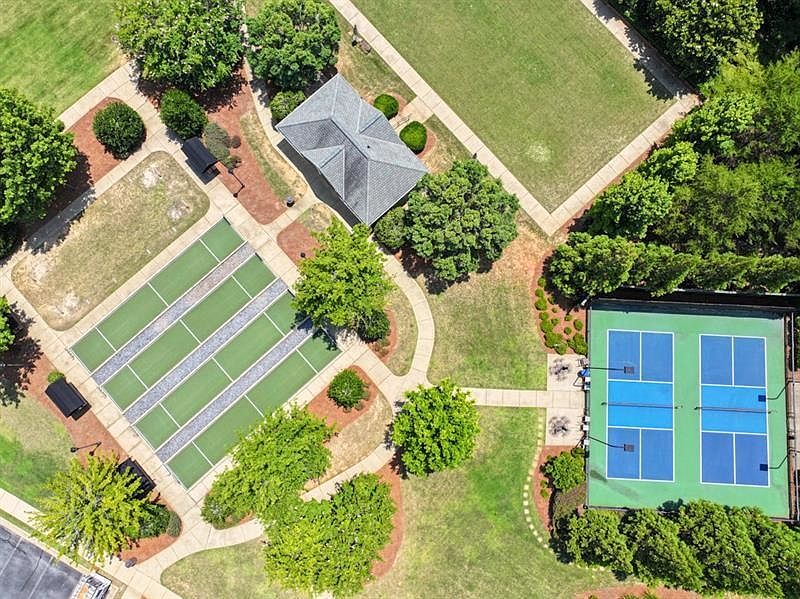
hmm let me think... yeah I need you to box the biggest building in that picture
[275,73,430,229]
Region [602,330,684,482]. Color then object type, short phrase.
blue sports court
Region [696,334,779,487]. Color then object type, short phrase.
blue sports court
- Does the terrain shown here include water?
No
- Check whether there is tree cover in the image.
Yes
